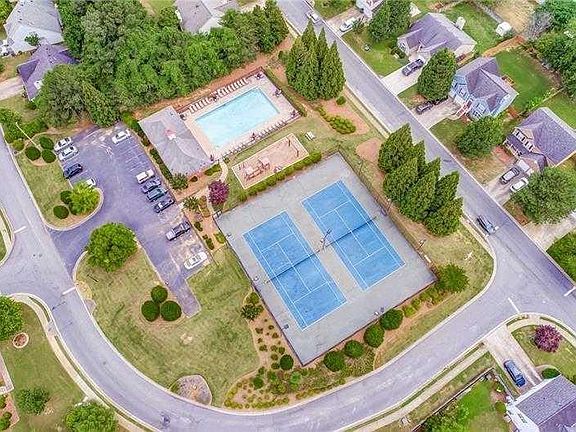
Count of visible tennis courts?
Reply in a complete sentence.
Looking from above, you can make out 2 tennis courts.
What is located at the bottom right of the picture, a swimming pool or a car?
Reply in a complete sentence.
The feature located at the bottom right of the picture is a car.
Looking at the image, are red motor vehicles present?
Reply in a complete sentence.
No, there's no red motor vehicle here.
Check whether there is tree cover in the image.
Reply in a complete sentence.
Yes, there's tree cover in this view.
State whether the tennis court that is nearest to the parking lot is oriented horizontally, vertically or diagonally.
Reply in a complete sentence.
The tennis court that is nearest to the parking lot is oriented diagonally.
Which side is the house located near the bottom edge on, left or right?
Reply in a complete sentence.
The house located near the bottom edge is on the right side of the image.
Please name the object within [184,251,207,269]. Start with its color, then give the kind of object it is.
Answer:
white car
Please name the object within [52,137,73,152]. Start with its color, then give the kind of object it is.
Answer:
white car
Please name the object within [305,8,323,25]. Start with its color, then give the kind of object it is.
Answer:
white vehicle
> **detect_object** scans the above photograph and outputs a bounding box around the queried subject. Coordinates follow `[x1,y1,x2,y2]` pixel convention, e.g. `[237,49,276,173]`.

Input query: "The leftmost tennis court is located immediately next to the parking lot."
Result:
[243,210,348,331]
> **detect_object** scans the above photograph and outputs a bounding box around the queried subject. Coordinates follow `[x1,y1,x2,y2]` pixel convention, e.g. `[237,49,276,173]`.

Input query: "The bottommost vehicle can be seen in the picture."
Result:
[502,361,526,388]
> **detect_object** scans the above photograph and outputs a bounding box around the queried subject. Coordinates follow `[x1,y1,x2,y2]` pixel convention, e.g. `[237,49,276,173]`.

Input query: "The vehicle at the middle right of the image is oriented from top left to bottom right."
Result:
[476,215,497,236]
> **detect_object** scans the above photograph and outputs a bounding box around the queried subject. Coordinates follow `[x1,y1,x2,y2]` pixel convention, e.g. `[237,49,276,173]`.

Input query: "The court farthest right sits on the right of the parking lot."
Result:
[301,179,406,291]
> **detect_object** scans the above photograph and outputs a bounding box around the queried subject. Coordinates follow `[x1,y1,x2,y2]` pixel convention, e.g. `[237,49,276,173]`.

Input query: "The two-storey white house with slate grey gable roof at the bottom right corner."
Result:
[505,370,576,432]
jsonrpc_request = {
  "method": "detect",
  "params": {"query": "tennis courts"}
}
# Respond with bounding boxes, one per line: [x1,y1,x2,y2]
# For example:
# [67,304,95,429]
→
[243,210,348,331]
[301,179,406,291]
